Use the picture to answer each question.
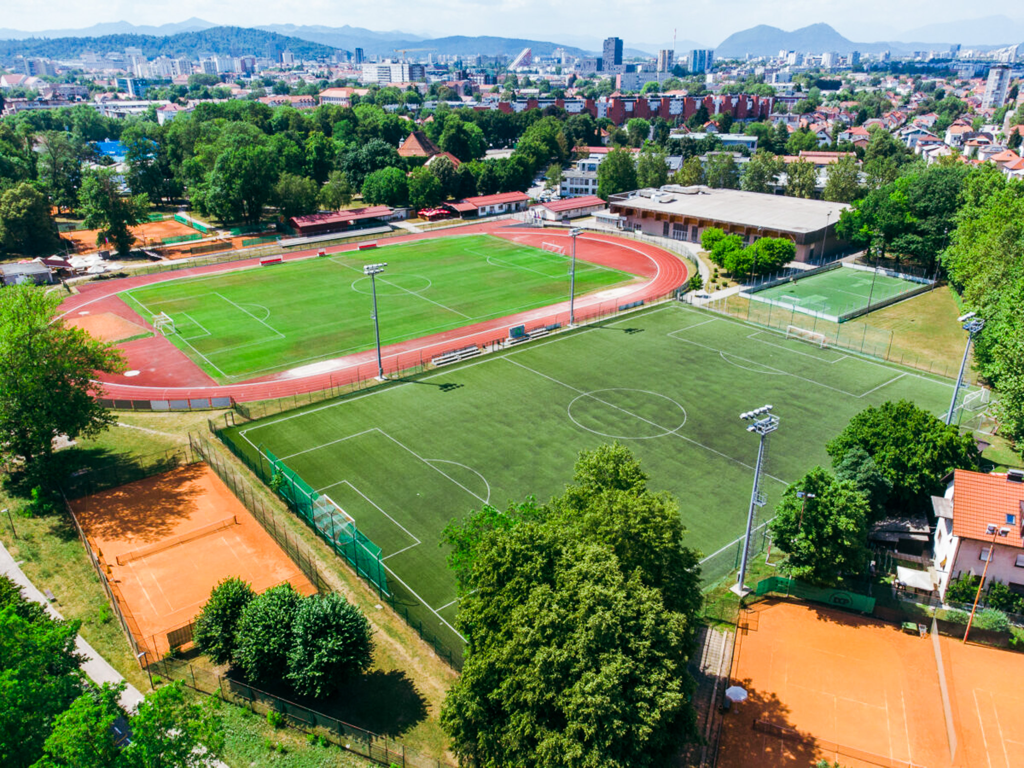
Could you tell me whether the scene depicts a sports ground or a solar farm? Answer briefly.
sports ground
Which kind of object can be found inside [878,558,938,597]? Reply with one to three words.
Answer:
gazebo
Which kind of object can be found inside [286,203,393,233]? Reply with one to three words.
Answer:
shed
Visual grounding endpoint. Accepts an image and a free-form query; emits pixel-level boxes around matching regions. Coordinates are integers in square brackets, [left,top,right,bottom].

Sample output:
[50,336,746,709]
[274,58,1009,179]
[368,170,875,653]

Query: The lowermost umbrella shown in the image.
[725,683,753,714]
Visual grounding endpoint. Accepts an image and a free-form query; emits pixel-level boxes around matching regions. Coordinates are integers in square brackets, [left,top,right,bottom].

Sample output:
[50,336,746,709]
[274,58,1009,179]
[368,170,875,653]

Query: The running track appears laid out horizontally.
[4,228,686,413]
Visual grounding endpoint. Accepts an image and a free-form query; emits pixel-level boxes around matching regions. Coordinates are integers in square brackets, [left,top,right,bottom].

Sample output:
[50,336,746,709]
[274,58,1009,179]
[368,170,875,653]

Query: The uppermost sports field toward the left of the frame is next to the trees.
[104,233,647,388]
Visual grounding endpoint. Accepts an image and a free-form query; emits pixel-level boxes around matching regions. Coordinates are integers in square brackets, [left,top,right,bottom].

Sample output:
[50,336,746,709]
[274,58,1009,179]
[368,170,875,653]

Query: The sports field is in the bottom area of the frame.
[217,300,1005,659]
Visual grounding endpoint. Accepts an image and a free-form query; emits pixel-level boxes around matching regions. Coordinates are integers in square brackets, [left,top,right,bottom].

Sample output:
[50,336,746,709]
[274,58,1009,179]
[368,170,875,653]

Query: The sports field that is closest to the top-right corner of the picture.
[748,266,925,317]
